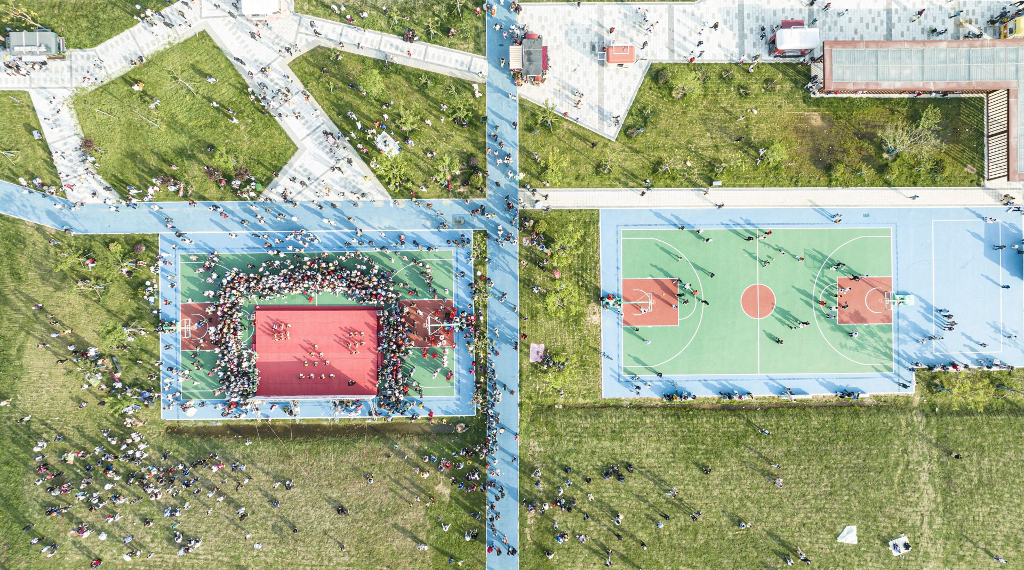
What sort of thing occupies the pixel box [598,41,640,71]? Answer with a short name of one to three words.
camper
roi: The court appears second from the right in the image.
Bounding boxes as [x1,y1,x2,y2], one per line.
[600,206,916,398]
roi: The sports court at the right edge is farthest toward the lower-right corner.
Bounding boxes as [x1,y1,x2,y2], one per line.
[915,206,1024,369]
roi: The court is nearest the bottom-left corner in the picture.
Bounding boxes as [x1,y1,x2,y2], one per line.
[159,229,476,420]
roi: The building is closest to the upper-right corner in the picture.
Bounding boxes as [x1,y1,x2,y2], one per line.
[817,40,1024,184]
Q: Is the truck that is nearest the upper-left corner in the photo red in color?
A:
No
